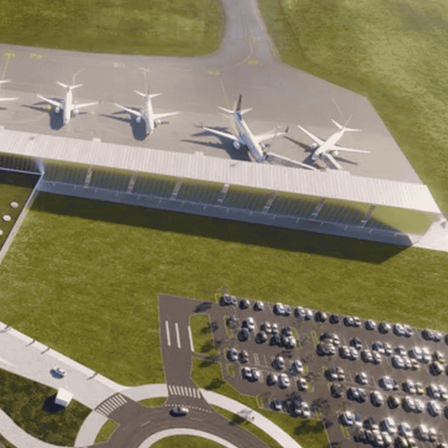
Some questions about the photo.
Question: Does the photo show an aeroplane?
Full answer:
Yes, this view includes an aeroplane.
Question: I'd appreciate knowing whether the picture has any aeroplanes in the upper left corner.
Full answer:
Yes, looking in the upper left corner, one can make out an aeroplane.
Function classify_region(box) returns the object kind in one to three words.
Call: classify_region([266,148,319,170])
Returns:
jet bridge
